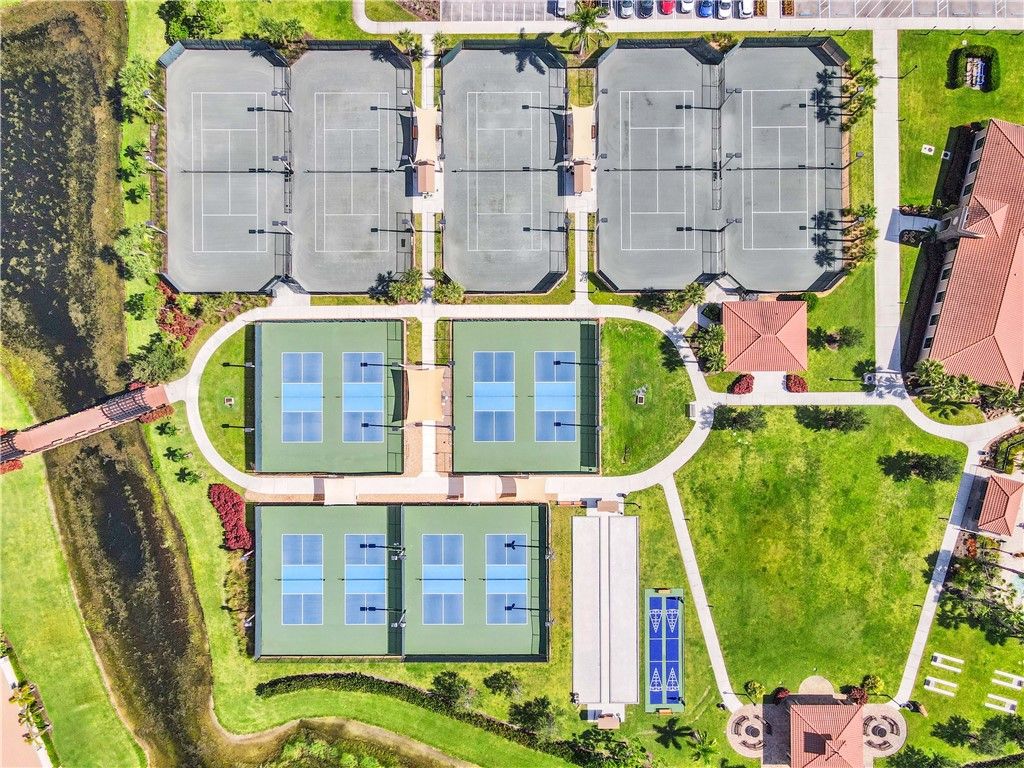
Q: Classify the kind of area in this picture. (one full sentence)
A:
What you see here is a sports ground.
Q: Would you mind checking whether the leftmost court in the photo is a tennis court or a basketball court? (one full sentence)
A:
It looks like the leftmost court is a tennis court.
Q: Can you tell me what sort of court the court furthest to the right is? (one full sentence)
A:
From above, the court furthest to the right can be identified as a tennis court.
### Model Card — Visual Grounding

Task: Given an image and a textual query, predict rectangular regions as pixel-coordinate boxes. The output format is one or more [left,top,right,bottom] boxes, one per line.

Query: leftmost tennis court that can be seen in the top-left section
[166,49,290,293]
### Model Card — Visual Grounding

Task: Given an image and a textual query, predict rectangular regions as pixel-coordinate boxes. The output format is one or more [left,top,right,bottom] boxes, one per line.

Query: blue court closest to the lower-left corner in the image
[277,534,327,625]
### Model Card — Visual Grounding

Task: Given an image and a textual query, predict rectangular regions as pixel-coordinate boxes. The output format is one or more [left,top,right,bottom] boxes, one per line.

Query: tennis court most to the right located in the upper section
[722,47,844,290]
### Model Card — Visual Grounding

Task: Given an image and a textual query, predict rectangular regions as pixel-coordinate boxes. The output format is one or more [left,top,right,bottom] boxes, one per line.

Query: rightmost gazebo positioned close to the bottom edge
[785,698,863,768]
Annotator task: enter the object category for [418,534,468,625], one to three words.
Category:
sports court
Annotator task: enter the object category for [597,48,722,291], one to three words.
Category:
tennis court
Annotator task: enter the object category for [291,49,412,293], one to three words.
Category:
tennis court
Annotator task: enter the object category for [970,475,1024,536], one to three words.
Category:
building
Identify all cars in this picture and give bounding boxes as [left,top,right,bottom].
[640,0,655,16]
[681,0,694,11]
[597,0,612,14]
[620,0,636,16]
[718,0,733,17]
[739,0,755,17]
[554,0,569,13]
[699,0,715,15]
[662,0,675,13]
